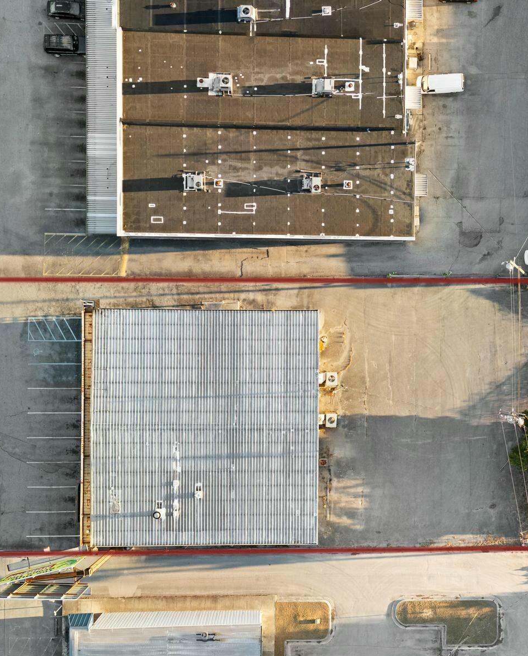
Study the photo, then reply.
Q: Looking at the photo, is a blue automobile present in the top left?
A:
No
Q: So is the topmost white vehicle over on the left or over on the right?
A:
right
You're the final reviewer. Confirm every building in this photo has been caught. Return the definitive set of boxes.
[86,0,429,248]
[67,603,262,656]
[78,300,320,547]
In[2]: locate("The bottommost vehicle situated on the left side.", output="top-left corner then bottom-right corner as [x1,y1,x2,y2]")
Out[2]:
[43,33,86,56]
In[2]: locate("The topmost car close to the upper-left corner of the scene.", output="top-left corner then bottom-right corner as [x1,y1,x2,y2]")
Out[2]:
[45,0,86,21]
